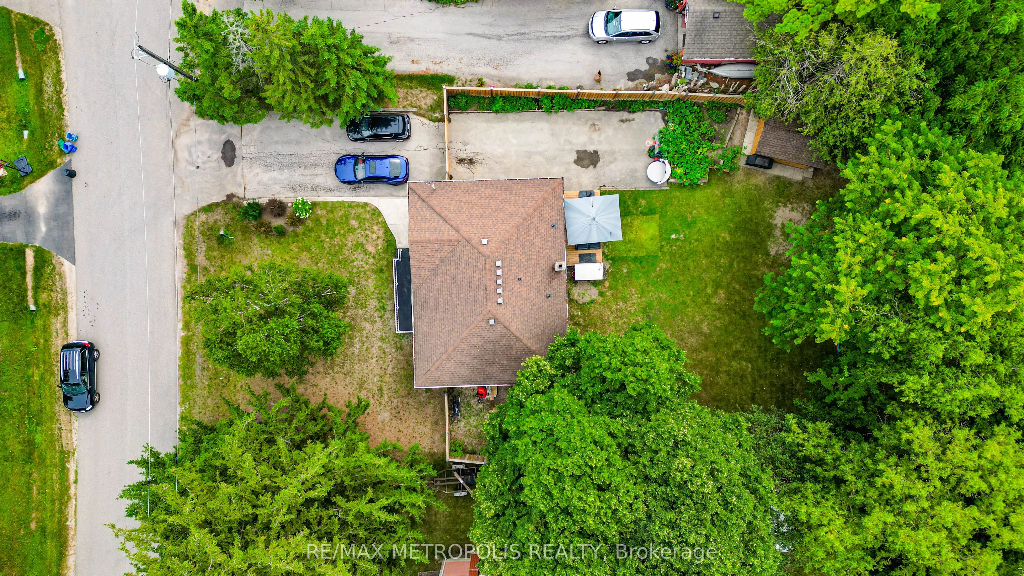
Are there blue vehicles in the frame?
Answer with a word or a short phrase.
Yes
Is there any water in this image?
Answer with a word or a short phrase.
No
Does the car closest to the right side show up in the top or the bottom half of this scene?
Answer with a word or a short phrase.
top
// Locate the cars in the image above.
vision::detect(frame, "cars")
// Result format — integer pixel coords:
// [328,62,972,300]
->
[335,150,409,187]
[346,107,412,143]
[59,340,101,412]
[587,5,662,46]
